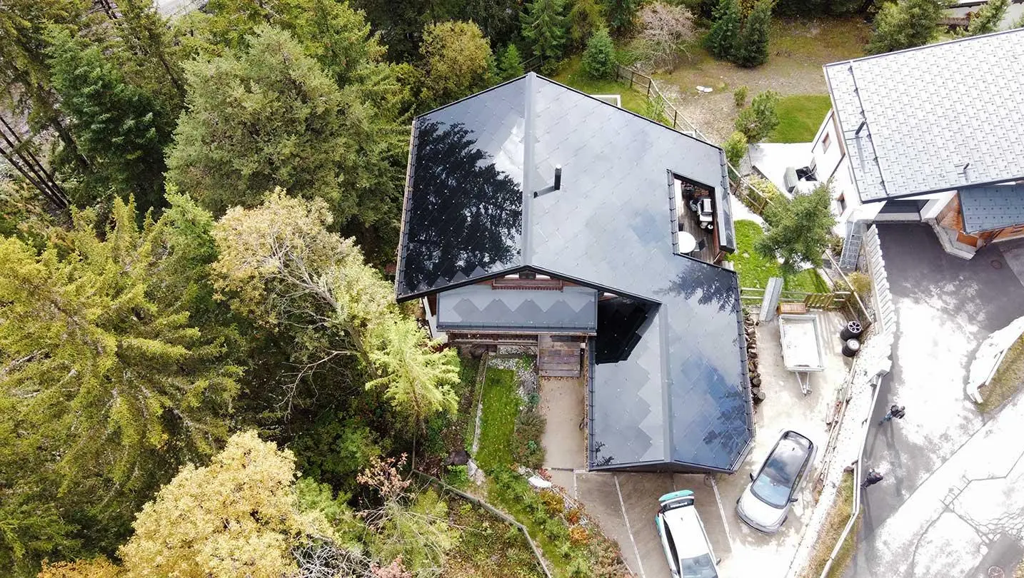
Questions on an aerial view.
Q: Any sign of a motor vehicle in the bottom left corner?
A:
No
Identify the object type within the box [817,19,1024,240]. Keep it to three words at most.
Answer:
house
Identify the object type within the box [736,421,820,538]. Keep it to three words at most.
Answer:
car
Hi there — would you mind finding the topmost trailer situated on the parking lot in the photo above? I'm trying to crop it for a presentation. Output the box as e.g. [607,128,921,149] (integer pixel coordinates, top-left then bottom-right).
[773,314,827,401]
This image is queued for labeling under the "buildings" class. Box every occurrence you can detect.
[392,73,758,477]
[817,19,1024,240]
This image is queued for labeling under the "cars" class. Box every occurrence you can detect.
[736,421,820,538]
[647,477,732,578]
